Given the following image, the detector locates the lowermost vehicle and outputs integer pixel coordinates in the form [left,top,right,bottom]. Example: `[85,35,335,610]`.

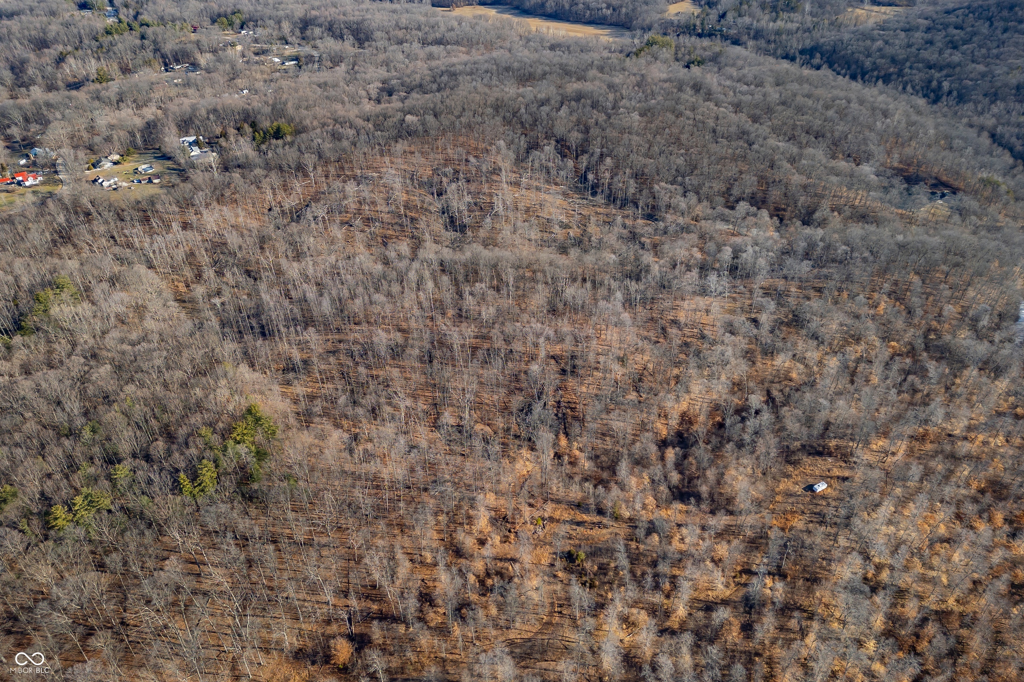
[813,480,829,495]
